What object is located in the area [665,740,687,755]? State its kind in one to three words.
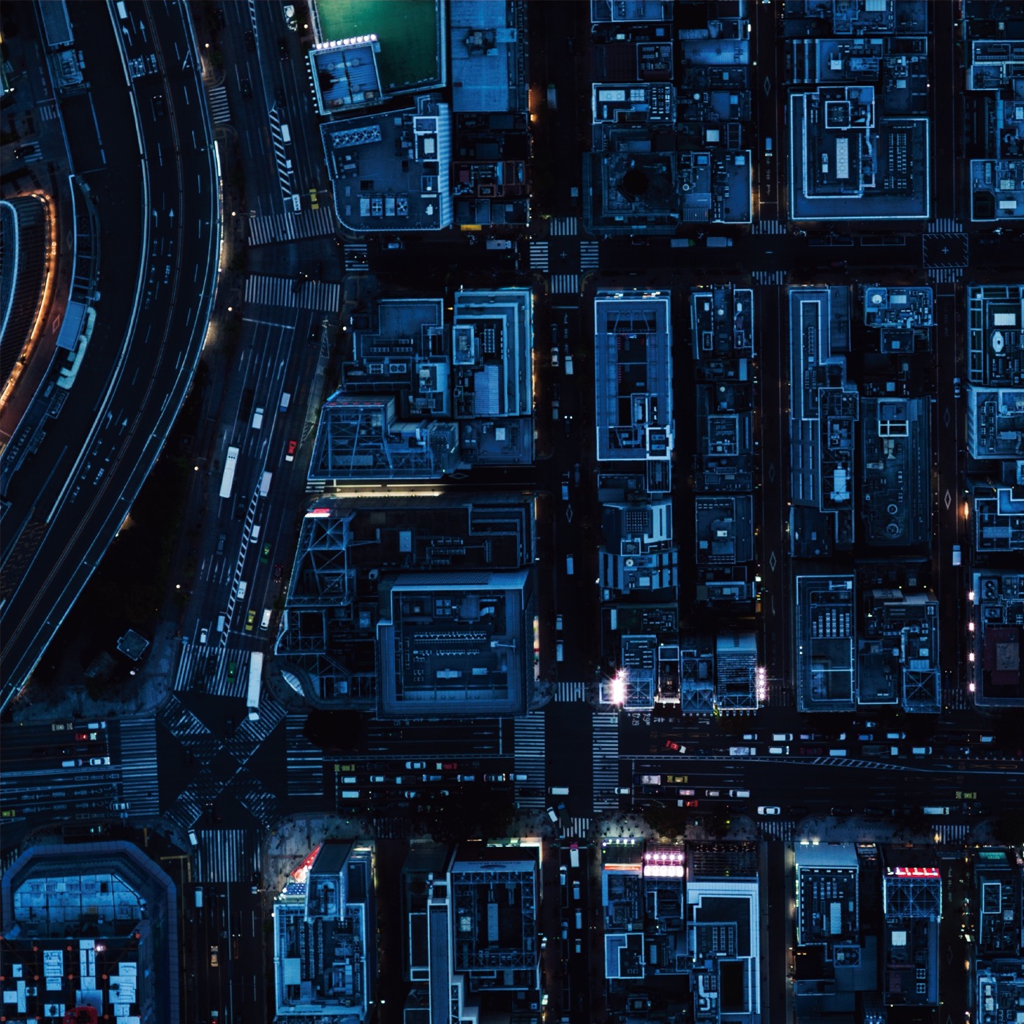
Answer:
car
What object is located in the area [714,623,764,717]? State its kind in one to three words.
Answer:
building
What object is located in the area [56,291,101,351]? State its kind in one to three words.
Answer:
shed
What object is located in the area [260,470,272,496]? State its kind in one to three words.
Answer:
vehicle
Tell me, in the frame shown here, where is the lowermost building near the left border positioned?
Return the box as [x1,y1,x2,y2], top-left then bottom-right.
[0,829,187,1024]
